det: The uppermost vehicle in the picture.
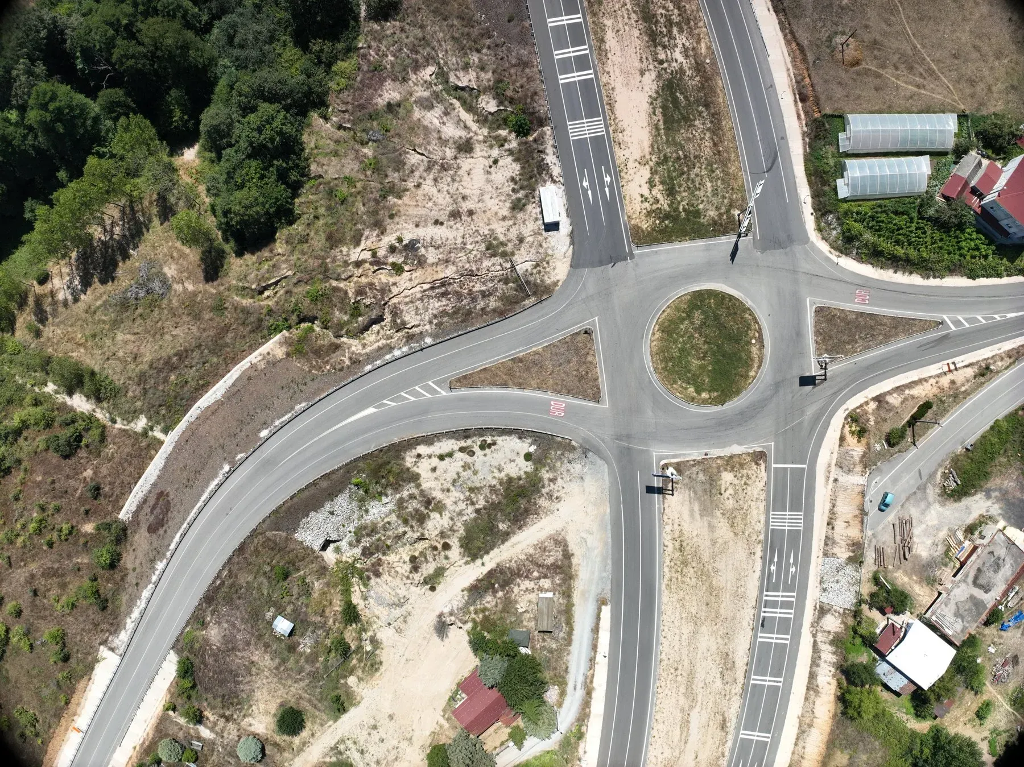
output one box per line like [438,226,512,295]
[878,490,897,513]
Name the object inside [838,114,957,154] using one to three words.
greenhouse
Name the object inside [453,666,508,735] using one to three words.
house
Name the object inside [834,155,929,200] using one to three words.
greenhouse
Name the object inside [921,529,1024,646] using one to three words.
building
